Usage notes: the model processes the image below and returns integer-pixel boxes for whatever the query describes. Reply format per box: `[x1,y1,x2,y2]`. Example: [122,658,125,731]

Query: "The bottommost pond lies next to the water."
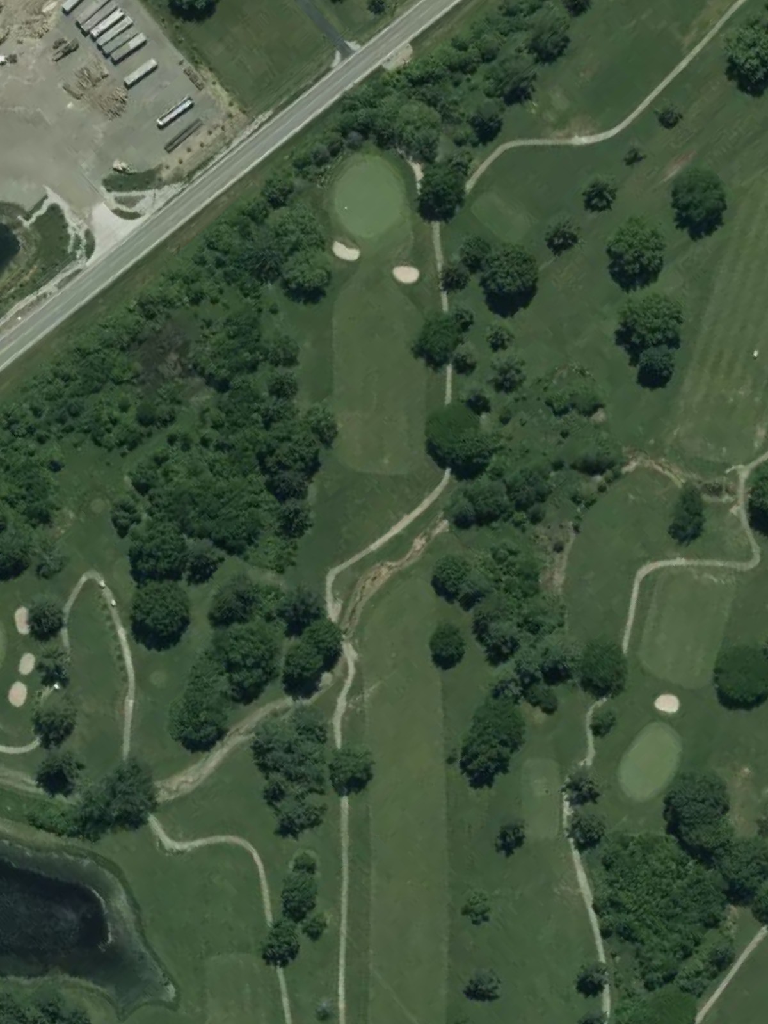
[0,840,175,1013]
